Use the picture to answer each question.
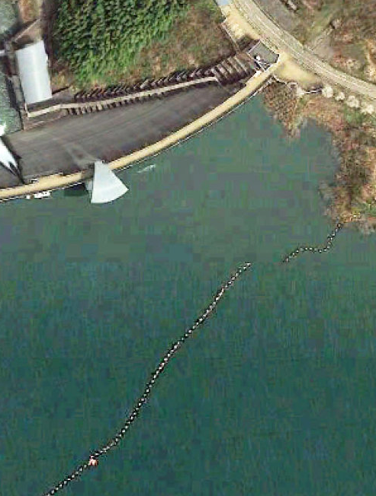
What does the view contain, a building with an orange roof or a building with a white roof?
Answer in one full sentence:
The one in the frame is a building with a white roof.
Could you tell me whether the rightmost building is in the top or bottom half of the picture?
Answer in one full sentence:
The rightmost building sits in the top half of the picture.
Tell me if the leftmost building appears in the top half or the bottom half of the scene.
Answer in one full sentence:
The leftmost building sits in the top half of the picture.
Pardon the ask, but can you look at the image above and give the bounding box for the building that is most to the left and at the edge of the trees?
[15,23,72,116]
